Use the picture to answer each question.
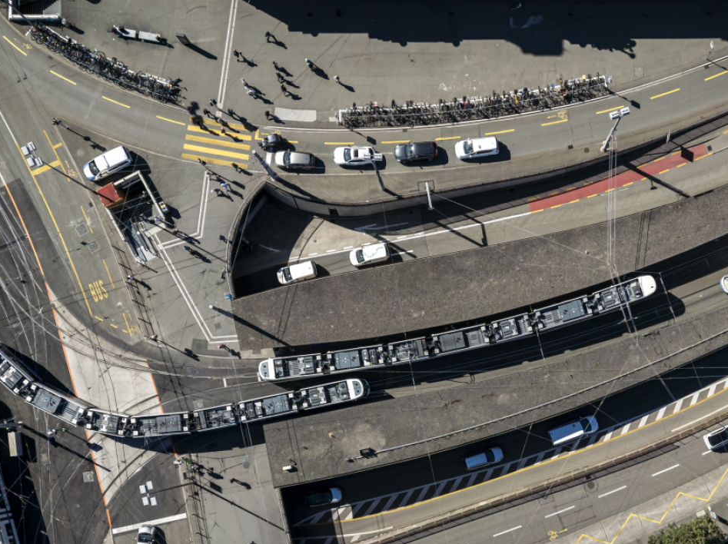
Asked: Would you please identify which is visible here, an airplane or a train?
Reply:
train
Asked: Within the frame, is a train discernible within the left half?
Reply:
Yes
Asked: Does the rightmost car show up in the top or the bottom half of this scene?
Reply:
bottom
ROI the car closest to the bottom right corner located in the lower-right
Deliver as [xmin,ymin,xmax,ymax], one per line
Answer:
[701,424,728,451]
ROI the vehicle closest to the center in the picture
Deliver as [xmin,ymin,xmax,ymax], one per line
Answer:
[349,242,390,264]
